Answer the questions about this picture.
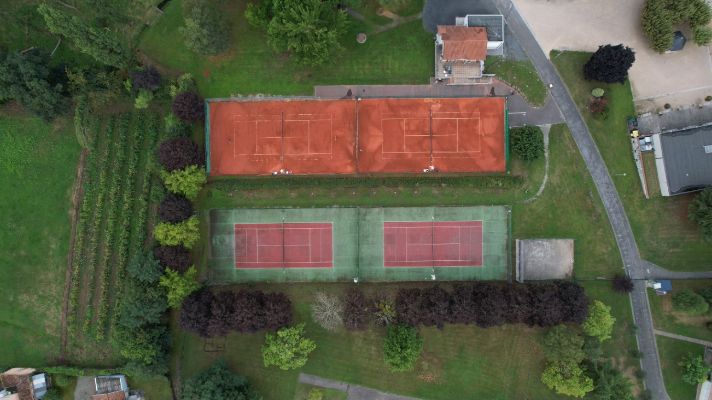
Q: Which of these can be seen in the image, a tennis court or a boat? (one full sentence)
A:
Visible in the photo is a tennis court.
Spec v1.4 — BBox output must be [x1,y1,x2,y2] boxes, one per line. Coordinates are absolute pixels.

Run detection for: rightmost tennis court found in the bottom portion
[359,205,509,280]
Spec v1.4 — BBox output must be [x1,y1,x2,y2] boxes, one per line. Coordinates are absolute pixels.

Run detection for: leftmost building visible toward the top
[435,15,503,83]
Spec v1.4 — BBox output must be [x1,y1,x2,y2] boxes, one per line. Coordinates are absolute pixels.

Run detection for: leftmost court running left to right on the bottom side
[209,207,358,282]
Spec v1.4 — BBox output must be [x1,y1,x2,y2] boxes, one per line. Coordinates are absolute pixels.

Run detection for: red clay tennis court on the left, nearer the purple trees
[209,99,357,177]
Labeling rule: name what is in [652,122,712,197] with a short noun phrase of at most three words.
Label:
building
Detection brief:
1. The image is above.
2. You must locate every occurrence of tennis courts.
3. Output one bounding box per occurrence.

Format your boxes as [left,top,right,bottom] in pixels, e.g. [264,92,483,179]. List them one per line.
[209,99,357,177]
[357,97,506,175]
[359,205,509,280]
[209,207,358,282]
